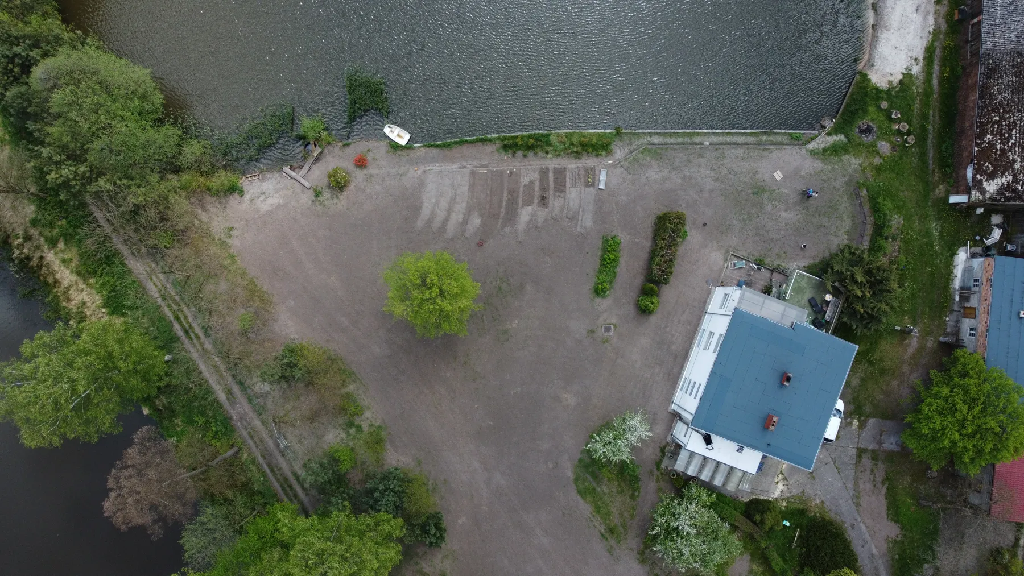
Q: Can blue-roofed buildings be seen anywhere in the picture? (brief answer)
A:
Yes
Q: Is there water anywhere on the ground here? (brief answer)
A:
Yes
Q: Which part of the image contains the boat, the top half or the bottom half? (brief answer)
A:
top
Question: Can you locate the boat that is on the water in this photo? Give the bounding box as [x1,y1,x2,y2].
[384,124,412,147]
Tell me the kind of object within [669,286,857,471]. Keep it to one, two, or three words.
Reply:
house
